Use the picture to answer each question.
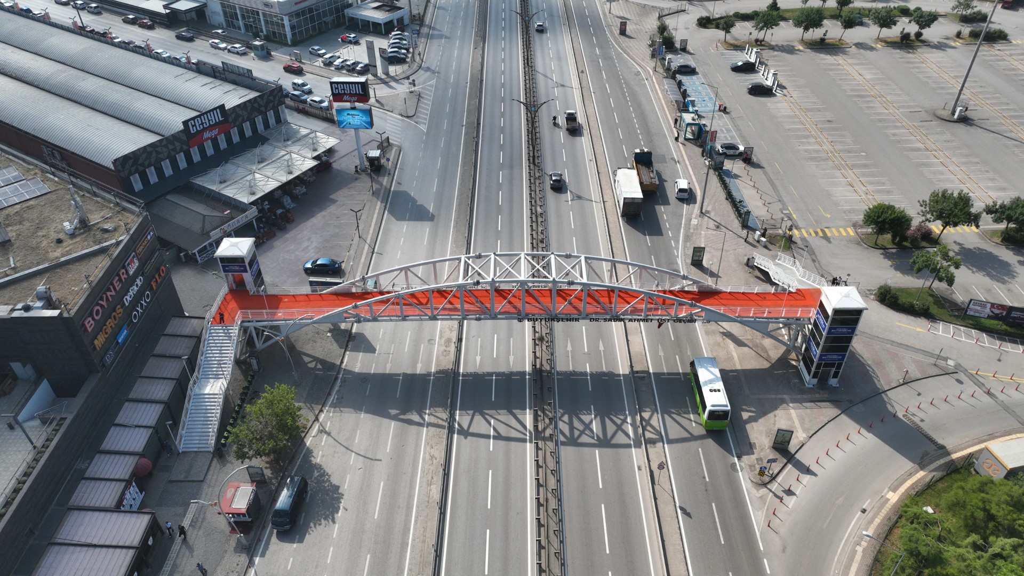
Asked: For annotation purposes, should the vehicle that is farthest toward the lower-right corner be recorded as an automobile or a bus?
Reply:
bus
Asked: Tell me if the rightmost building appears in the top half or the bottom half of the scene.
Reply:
bottom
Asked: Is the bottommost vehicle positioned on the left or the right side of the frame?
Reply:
left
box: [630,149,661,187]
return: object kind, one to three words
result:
truck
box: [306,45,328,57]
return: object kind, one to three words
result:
vehicle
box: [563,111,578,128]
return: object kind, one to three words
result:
vehicle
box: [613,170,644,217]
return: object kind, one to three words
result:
truck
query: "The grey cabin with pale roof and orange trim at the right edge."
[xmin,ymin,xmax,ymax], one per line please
[975,437,1024,487]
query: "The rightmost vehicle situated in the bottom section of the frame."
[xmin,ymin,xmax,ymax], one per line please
[684,348,735,431]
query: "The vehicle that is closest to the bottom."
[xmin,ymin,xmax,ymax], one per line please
[264,465,313,532]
